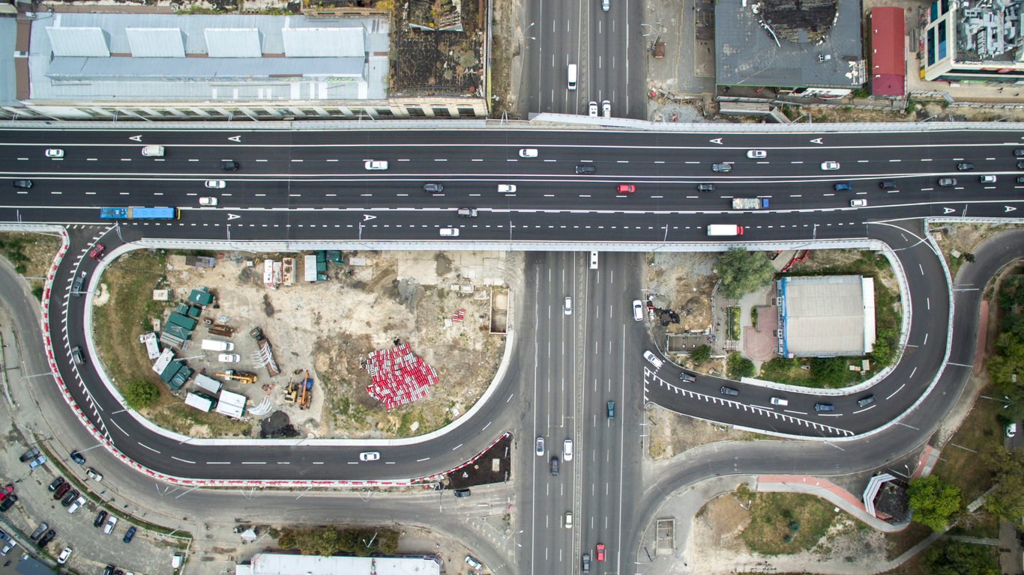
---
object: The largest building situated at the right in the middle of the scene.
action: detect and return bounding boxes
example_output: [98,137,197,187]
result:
[770,276,863,358]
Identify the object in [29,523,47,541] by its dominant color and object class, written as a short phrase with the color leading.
gray car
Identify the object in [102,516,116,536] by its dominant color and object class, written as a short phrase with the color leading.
white car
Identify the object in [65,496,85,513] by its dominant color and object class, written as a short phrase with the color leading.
white car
